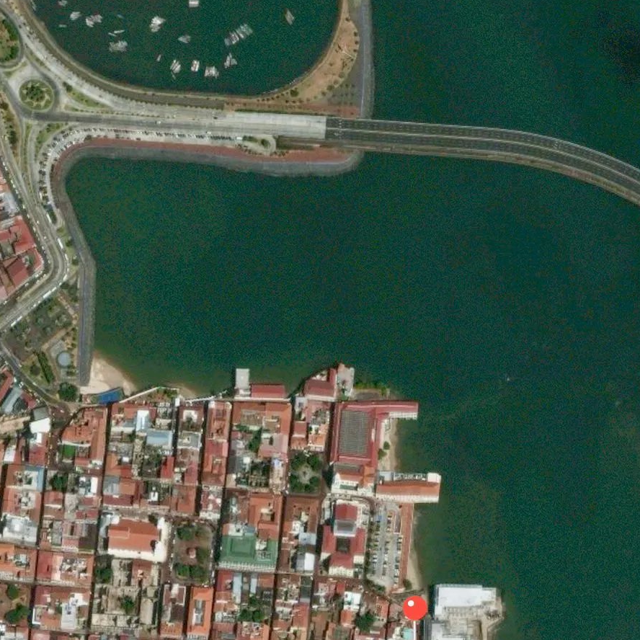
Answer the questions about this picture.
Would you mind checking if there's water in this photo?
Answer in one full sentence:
Yes, water shows up in the scene.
